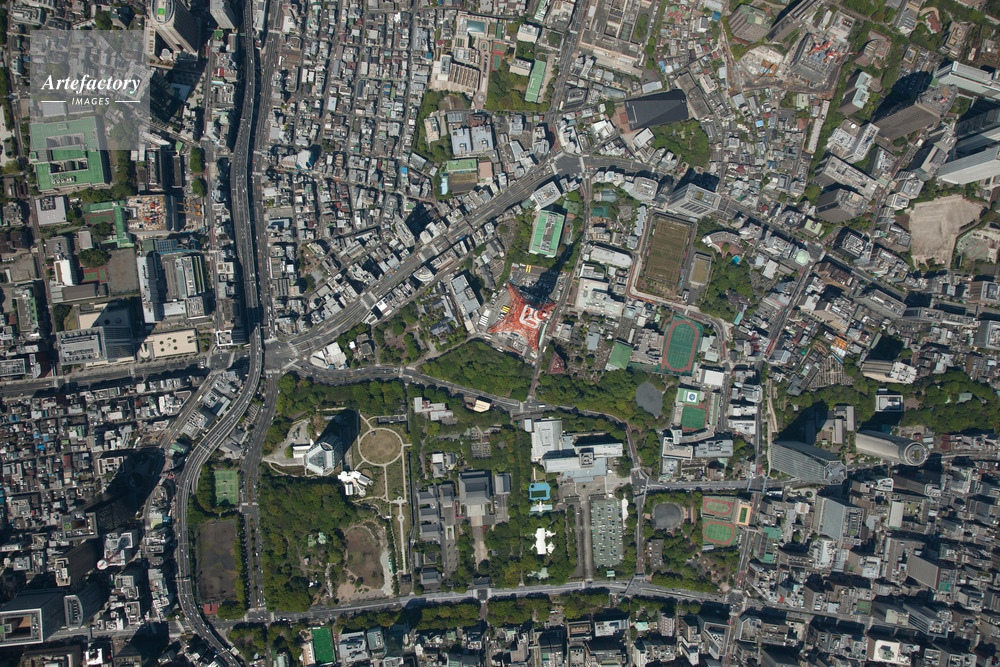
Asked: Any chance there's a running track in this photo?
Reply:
Yes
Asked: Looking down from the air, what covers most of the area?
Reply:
buildings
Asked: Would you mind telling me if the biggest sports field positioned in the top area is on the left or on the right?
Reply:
right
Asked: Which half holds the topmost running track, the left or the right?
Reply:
right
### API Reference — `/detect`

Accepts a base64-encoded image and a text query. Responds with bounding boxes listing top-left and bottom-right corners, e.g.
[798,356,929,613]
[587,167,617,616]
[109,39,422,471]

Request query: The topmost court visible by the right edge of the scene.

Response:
[957,229,1000,262]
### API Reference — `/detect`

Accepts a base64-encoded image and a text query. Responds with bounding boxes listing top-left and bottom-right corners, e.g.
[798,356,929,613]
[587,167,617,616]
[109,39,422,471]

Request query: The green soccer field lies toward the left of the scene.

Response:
[312,627,334,665]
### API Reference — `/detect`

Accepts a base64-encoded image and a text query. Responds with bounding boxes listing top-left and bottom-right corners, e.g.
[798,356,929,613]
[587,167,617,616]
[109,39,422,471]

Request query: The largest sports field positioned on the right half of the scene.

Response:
[641,213,694,289]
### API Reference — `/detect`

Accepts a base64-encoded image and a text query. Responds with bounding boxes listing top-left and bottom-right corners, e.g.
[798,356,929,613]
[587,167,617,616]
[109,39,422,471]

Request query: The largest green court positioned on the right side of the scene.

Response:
[682,399,709,431]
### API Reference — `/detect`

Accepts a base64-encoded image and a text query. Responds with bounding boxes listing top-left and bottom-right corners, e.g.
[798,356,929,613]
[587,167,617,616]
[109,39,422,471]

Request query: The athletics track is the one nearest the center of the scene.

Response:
[661,314,703,375]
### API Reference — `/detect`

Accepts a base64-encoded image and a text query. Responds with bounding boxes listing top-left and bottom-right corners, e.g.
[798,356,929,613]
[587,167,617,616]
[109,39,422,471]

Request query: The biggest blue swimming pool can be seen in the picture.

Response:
[529,483,550,500]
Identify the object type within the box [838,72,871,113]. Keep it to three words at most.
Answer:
building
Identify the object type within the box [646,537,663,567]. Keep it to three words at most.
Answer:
house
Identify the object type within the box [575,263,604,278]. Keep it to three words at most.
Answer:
building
